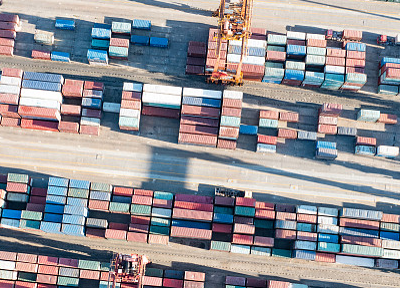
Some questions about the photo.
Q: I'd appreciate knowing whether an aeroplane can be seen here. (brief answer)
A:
No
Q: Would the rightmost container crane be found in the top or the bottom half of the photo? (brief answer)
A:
top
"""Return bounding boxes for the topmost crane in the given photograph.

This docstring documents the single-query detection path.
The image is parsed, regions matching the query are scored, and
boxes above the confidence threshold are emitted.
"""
[205,0,255,87]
